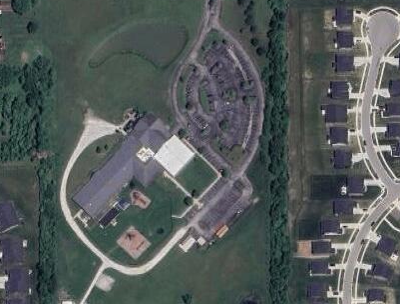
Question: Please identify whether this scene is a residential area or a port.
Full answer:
This image shows a residential area.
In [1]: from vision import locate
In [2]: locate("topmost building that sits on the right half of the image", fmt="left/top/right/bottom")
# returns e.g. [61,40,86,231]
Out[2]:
[336,5,354,27]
